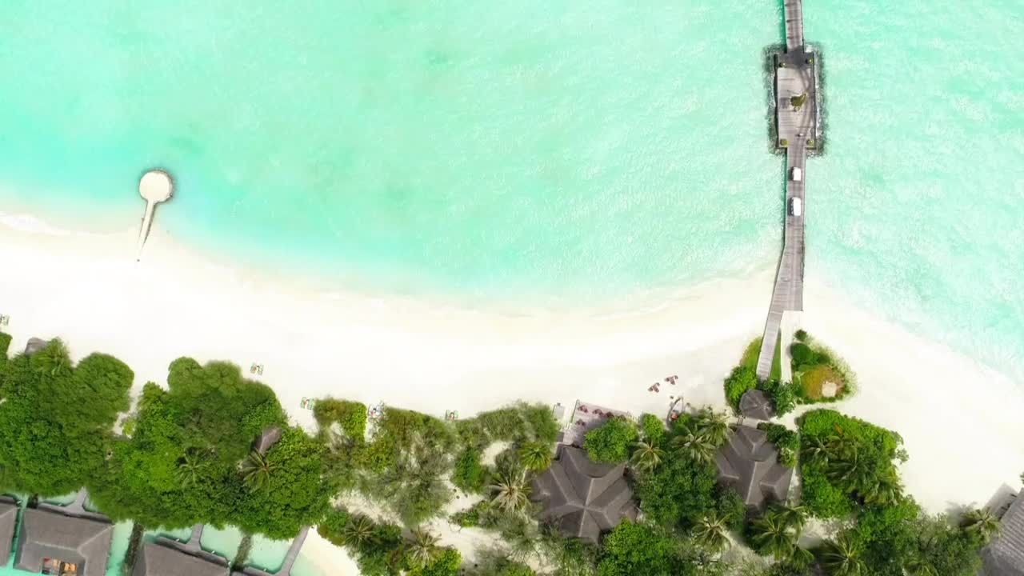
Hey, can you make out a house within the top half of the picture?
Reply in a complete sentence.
No, within the top half of the picture there is no house.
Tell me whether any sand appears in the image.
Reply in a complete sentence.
Yes, sand shows up in the scene.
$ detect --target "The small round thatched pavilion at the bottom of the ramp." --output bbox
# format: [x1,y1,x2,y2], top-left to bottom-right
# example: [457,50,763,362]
[740,390,773,420]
